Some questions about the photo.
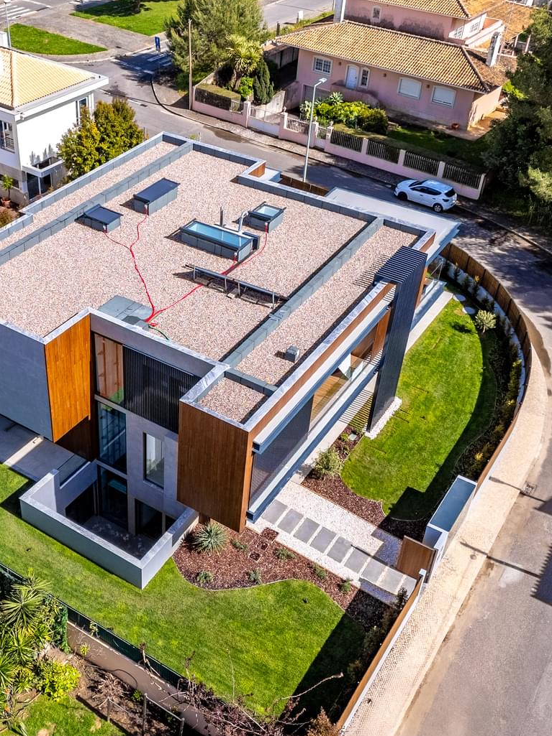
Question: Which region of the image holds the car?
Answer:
top right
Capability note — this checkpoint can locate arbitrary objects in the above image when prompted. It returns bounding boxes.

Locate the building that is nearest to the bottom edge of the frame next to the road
[0,131,462,535]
